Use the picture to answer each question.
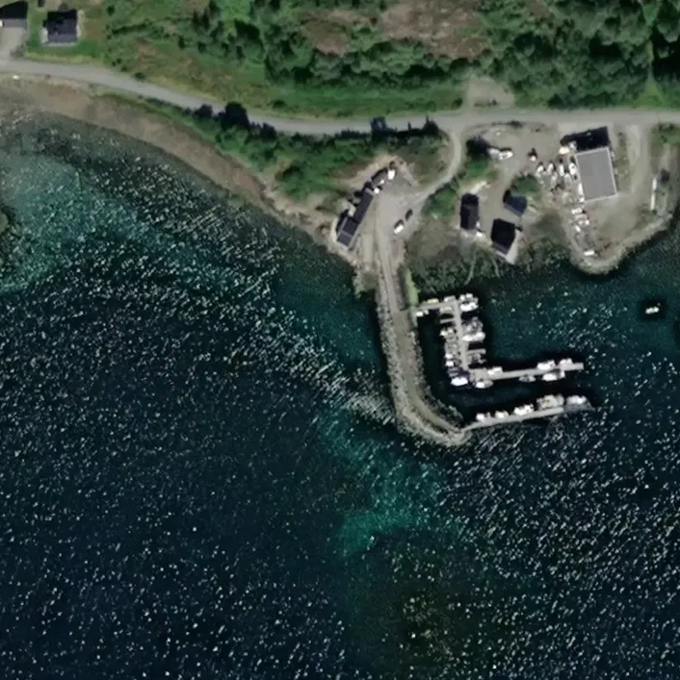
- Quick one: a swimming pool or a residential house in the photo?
residential house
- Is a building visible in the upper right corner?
Yes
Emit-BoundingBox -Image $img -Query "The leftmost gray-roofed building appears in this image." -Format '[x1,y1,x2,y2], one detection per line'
[0,15,29,29]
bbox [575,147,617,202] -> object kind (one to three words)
building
